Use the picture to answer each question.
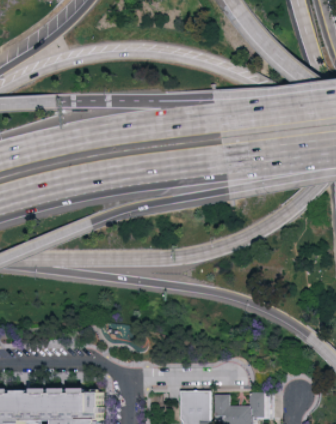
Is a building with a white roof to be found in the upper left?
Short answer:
No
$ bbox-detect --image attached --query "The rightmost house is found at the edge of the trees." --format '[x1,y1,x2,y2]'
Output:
[215,394,272,424]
